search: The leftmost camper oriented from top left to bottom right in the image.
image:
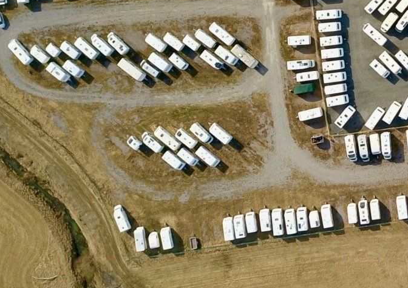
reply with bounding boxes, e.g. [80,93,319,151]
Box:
[9,38,34,64]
